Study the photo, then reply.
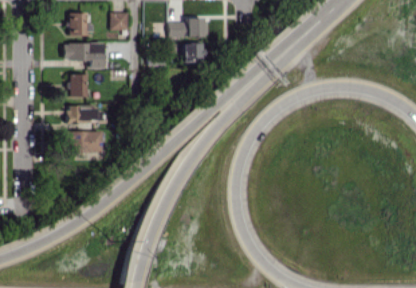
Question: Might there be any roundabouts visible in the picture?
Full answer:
No, the frame has no roundabout in it.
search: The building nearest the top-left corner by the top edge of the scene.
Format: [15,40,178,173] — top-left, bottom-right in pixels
[67,13,92,36]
